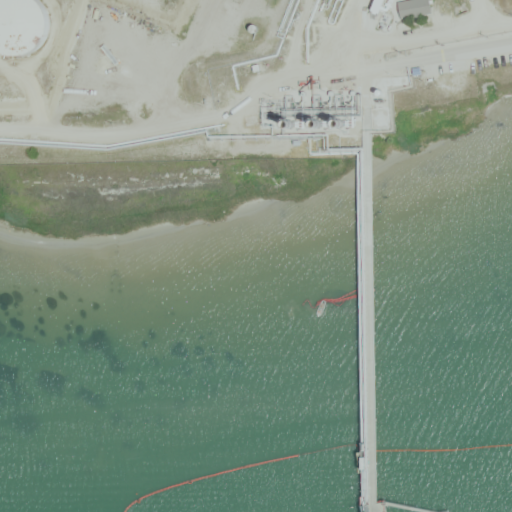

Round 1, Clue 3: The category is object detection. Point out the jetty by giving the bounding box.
[356,133,377,512]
